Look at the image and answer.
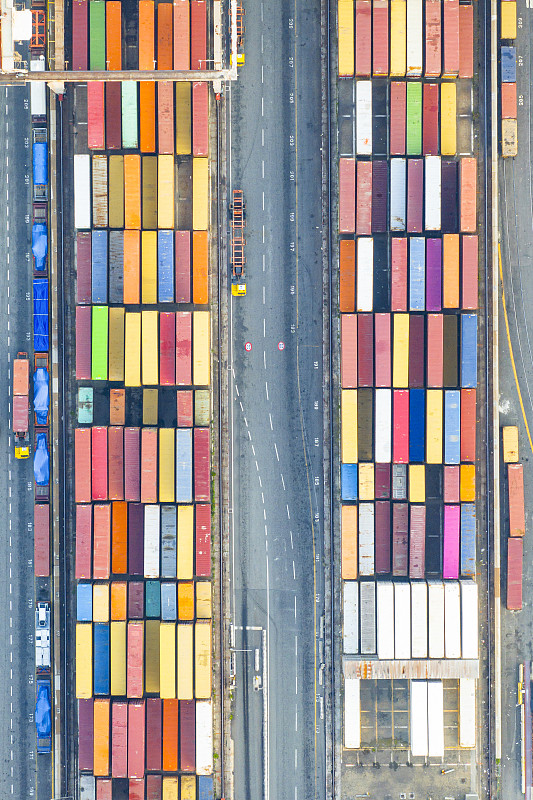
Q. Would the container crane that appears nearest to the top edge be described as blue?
No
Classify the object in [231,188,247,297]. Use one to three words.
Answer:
vehicle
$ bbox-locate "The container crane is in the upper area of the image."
[0,0,238,101]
